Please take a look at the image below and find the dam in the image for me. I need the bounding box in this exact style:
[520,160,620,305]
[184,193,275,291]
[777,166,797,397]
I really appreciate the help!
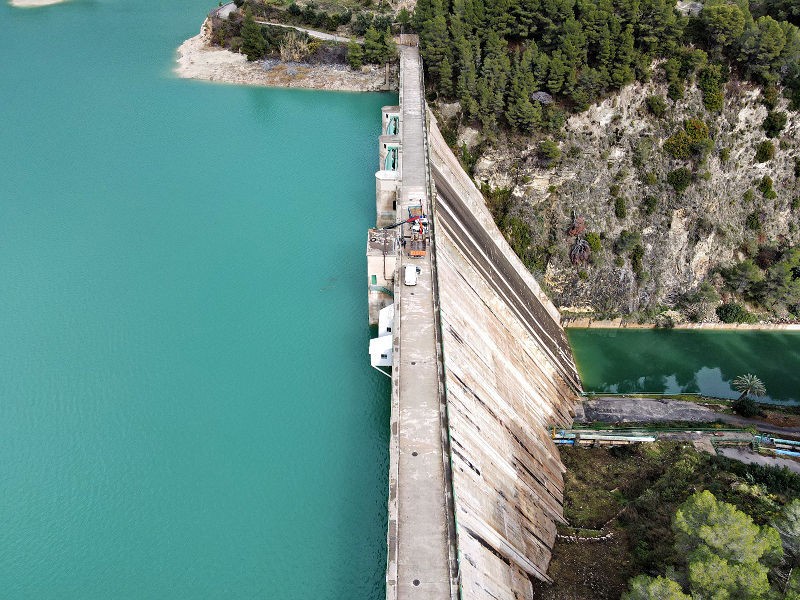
[371,40,580,600]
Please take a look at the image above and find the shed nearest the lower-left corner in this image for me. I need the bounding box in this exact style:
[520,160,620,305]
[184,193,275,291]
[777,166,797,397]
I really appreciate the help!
[368,335,391,383]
